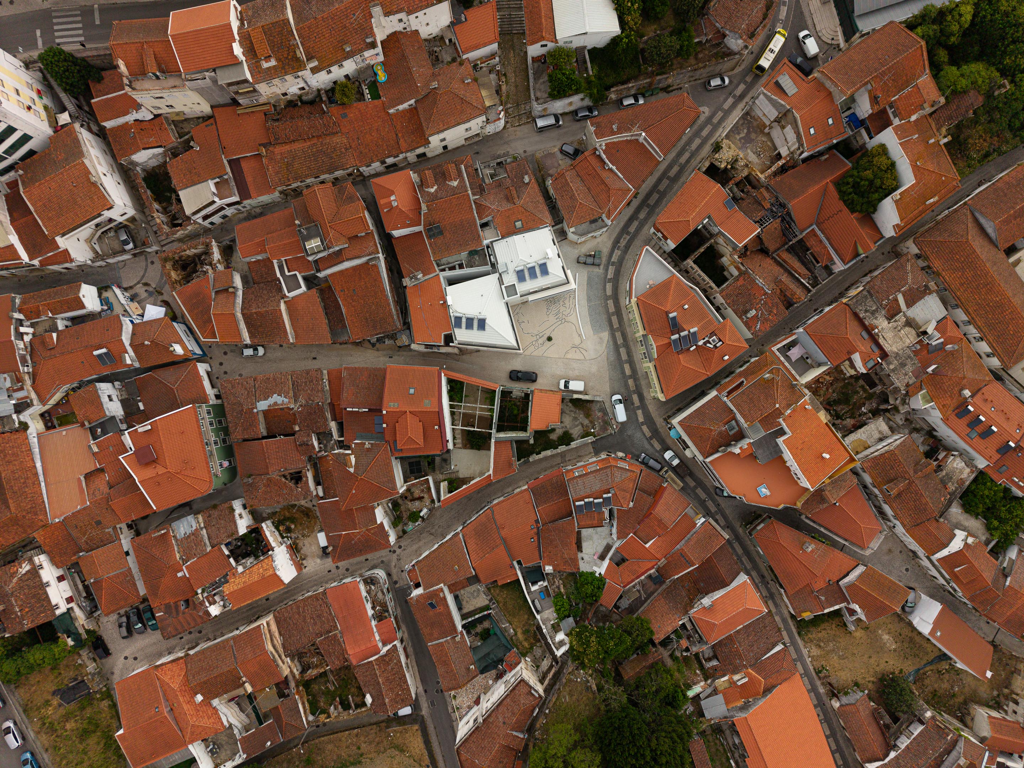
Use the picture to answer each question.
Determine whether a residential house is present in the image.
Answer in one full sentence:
Yes, this view includes a residential house.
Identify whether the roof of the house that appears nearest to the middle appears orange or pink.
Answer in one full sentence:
The roof of the house that appears nearest to the middle is orange.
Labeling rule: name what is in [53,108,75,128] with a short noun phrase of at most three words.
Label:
umbrella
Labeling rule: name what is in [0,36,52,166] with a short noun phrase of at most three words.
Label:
building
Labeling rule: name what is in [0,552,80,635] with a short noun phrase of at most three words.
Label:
house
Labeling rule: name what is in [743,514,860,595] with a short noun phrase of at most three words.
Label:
house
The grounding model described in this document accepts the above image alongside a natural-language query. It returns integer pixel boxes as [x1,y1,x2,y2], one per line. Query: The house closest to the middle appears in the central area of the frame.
[530,388,562,431]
